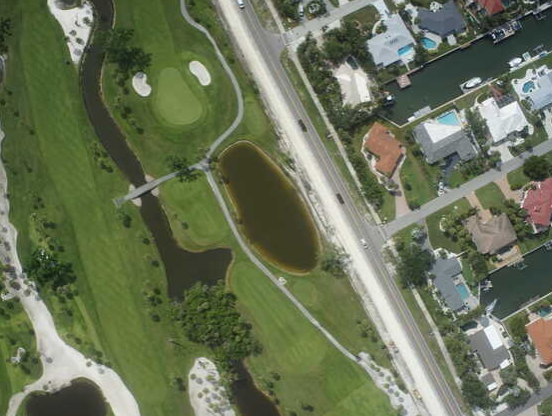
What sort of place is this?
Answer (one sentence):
The picture captures a golf course.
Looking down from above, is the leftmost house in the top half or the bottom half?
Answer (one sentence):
The leftmost house sits in the top half of the picture.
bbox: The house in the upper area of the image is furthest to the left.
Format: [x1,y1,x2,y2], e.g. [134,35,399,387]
[338,64,375,103]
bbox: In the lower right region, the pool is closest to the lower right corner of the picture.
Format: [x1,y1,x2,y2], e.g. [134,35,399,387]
[529,304,552,323]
